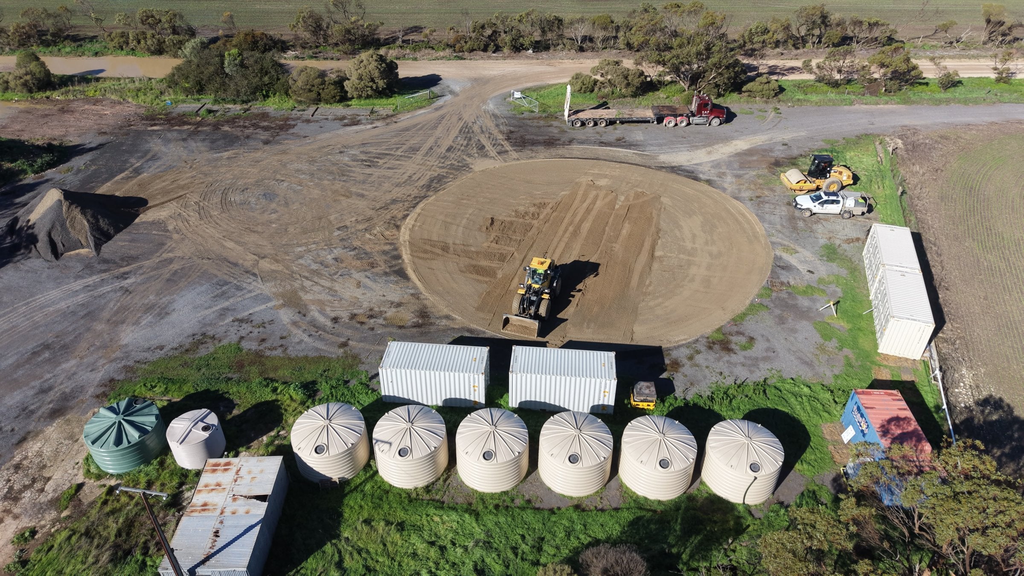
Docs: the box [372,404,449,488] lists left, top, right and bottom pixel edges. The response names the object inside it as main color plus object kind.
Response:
white water tank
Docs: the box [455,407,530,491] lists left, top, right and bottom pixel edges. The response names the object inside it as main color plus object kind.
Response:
white water tank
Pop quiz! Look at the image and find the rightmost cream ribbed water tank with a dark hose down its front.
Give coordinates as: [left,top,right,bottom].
[702,418,786,508]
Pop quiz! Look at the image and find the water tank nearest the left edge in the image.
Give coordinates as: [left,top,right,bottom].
[81,398,170,478]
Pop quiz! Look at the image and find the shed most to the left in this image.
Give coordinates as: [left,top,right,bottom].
[157,448,288,576]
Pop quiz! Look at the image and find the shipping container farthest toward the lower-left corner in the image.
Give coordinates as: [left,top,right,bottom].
[378,341,490,408]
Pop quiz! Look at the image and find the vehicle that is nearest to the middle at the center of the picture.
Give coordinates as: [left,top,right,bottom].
[504,249,566,339]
